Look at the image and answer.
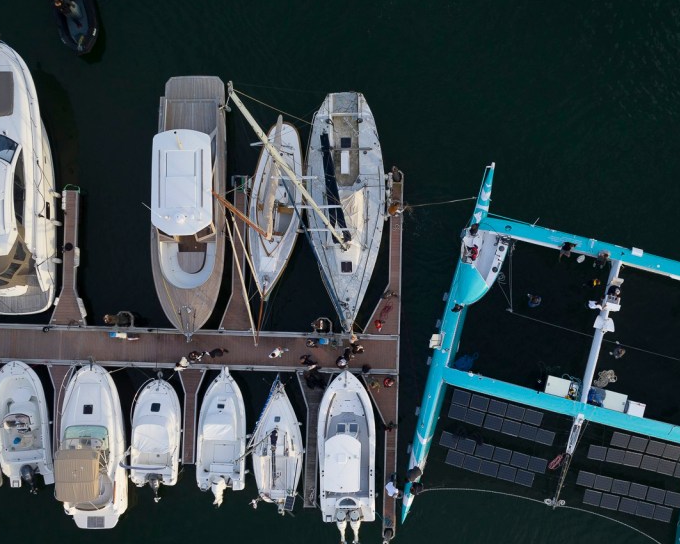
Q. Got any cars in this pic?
No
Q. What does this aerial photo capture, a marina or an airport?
marina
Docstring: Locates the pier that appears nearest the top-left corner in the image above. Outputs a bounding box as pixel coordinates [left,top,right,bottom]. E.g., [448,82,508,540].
[50,183,90,325]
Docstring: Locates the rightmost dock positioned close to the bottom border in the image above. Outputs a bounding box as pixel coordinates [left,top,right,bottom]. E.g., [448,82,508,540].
[364,373,400,540]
